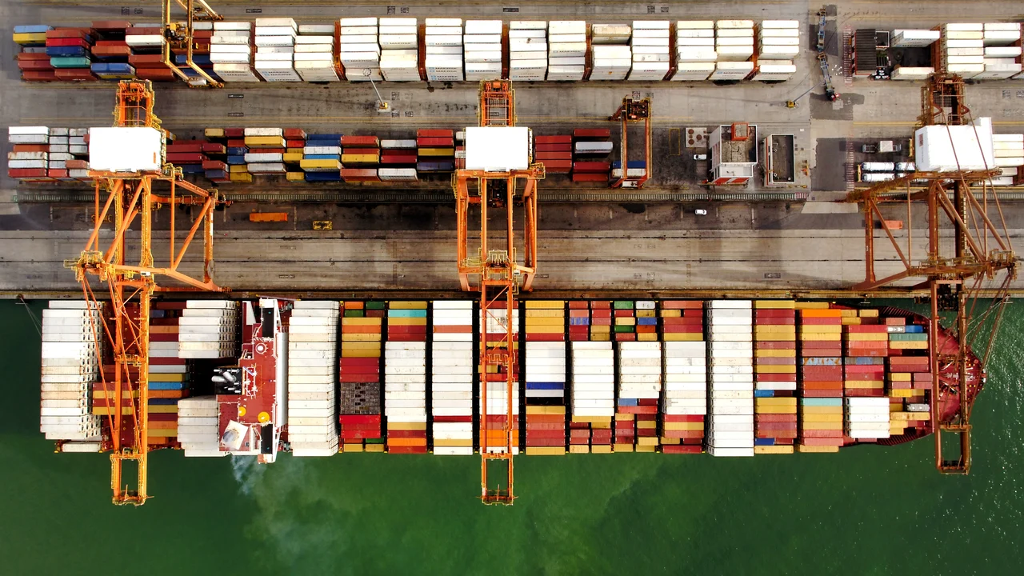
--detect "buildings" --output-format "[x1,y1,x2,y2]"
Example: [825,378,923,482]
[850,30,876,79]
[764,134,796,186]
[703,120,758,183]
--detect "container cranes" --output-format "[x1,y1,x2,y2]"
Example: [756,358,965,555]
[64,79,233,506]
[454,78,548,507]
[608,97,656,190]
[839,71,1013,476]
[161,0,224,88]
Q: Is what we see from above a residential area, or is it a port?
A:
port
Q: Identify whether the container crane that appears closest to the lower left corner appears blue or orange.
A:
orange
